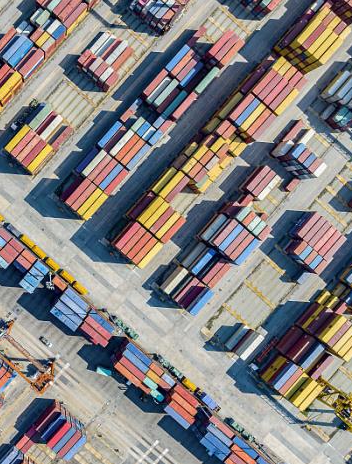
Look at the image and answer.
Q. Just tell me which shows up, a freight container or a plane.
freight container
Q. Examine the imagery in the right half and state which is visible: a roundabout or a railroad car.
railroad car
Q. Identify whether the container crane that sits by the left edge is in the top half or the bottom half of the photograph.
bottom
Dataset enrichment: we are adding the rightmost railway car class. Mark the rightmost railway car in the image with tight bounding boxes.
[242,431,258,447]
